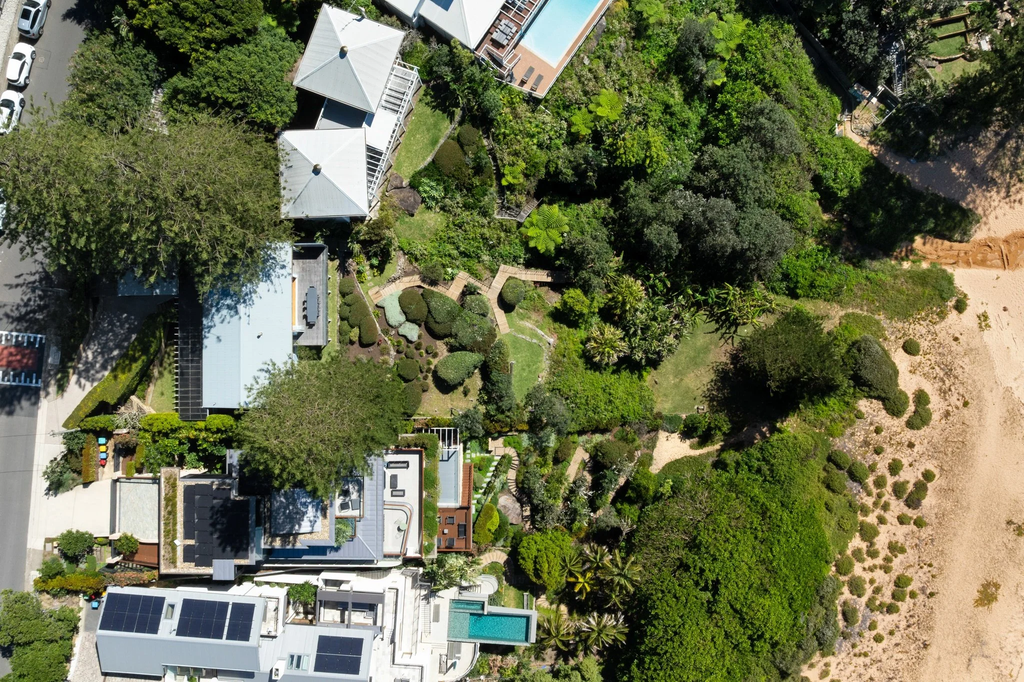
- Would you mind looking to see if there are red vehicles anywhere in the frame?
No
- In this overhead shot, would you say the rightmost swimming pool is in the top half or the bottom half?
top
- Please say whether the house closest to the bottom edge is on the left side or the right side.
left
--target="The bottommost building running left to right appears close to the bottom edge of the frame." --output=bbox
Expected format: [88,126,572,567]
[96,561,498,682]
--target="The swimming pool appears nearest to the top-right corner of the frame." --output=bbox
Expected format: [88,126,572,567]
[521,0,599,68]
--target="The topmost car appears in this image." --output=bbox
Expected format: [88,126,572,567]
[19,0,53,40]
